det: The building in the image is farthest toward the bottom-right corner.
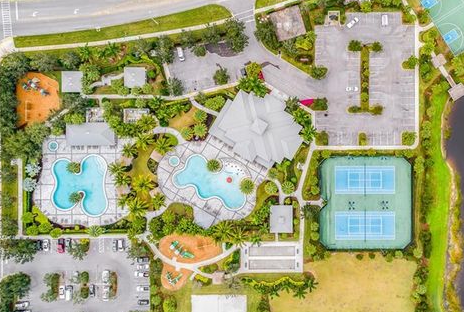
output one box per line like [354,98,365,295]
[270,205,293,233]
